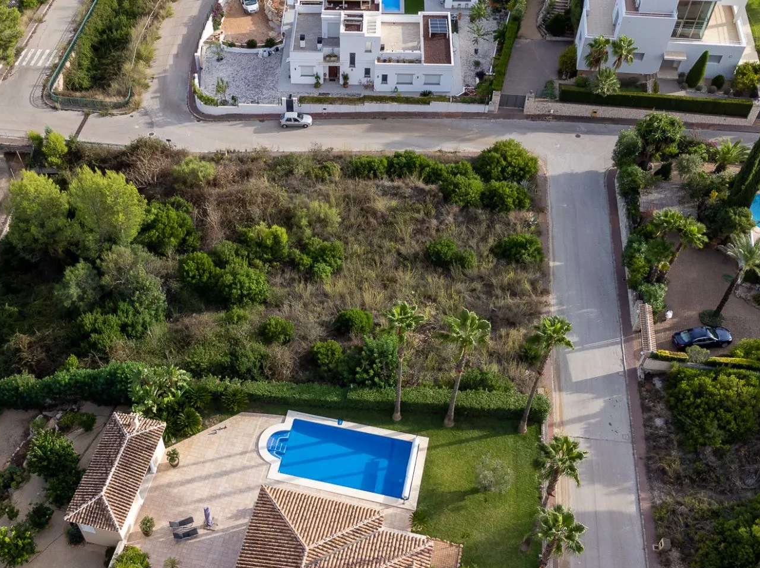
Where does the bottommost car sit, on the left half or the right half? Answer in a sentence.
The bottommost car sits on the right side.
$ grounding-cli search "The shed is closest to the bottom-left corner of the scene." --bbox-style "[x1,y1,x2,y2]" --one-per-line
[63,411,166,539]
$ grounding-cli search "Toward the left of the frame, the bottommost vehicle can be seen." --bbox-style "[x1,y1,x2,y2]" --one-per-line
[278,111,312,128]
